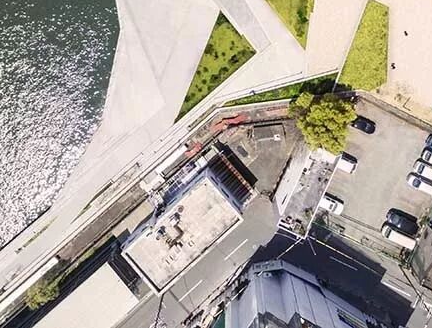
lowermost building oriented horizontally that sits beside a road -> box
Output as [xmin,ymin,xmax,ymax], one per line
[222,266,372,328]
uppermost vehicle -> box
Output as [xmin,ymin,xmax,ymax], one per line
[350,116,377,135]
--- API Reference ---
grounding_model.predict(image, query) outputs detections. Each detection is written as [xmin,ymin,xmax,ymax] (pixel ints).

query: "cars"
[406,174,432,195]
[382,225,412,247]
[319,196,342,215]
[412,161,432,179]
[420,149,432,163]
[386,210,417,233]
[350,116,377,135]
[338,155,357,173]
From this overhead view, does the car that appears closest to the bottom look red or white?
white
